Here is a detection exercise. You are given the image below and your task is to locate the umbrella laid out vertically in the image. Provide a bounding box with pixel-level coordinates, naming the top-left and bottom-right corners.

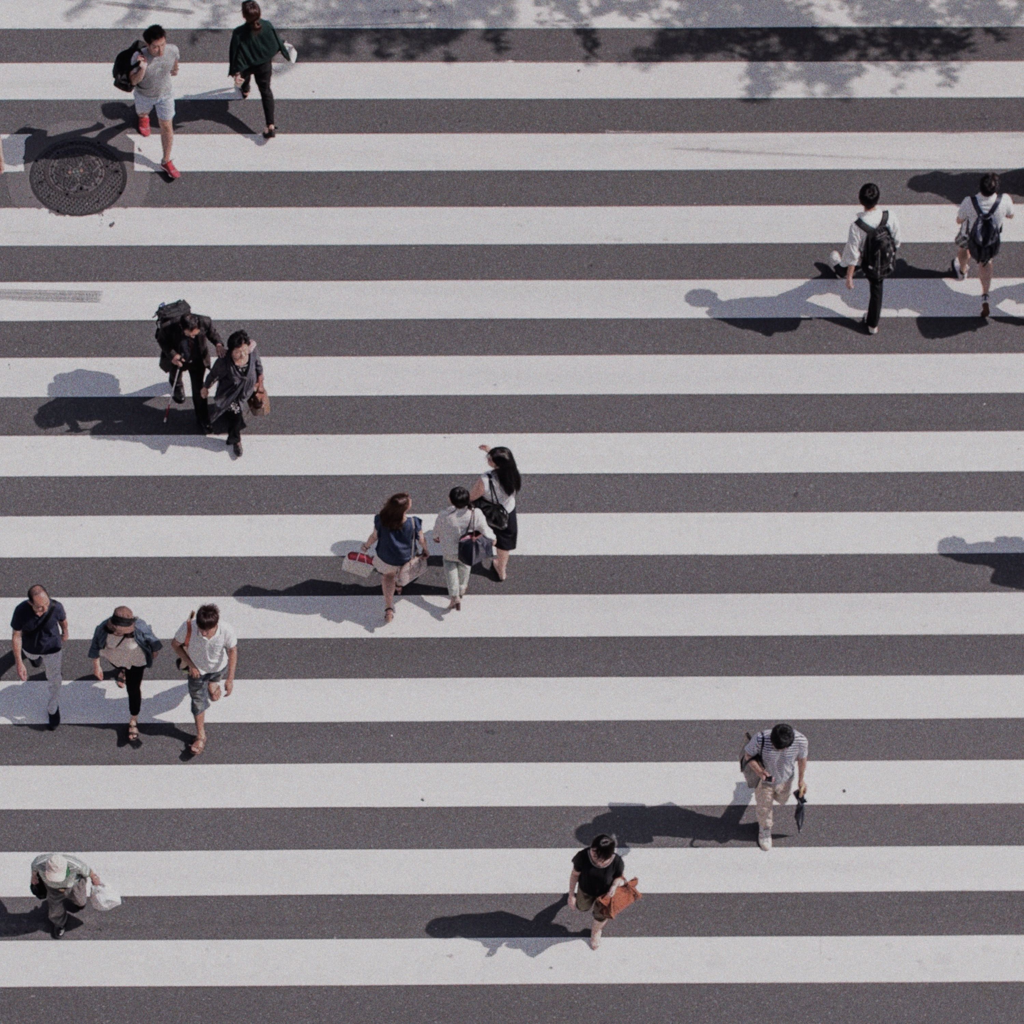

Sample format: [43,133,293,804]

[792,790,811,832]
